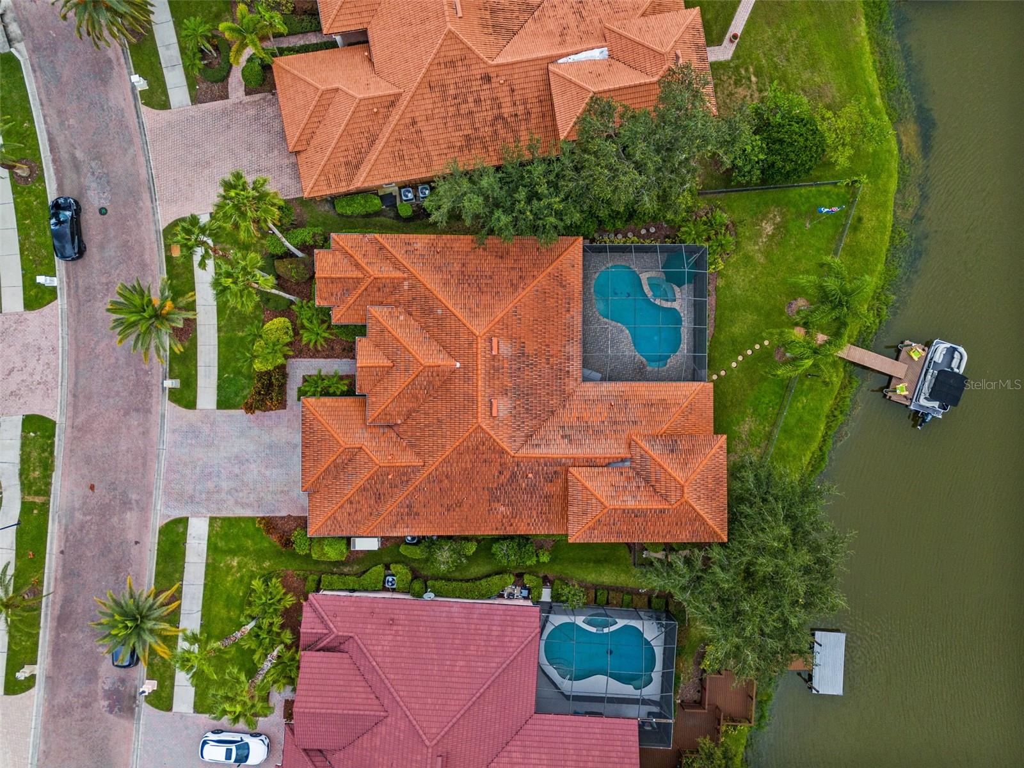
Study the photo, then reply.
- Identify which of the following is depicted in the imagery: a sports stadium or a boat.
boat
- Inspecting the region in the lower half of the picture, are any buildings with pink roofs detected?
Yes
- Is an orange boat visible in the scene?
No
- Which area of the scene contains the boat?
right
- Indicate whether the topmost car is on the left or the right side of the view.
left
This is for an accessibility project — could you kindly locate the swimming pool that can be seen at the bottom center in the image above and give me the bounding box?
[541,617,659,693]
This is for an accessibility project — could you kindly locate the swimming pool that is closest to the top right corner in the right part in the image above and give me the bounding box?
[591,262,684,370]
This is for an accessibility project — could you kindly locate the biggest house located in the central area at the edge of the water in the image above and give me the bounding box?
[301,234,728,543]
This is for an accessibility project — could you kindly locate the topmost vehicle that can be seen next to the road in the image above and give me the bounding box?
[43,194,84,259]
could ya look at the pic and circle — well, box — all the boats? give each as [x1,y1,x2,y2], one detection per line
[911,337,970,427]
